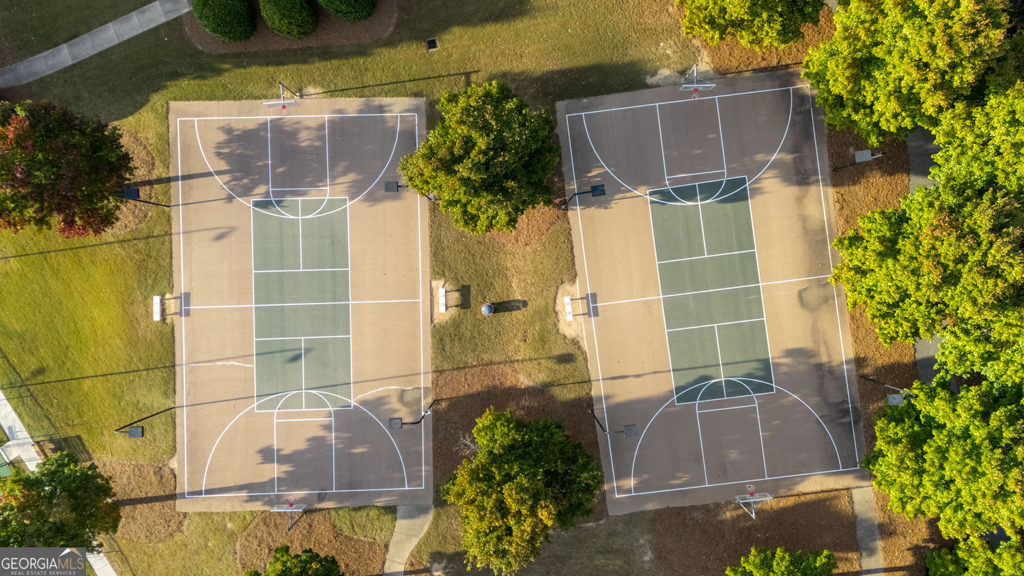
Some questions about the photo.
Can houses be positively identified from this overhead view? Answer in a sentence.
No, I find no house anywhere in the image.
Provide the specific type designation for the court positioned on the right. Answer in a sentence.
It looks like the court positioned on the right is a basketball court.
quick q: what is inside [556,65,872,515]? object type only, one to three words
basketball court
